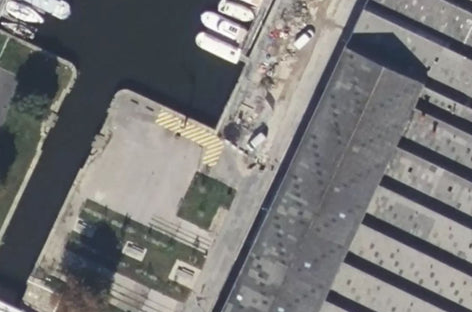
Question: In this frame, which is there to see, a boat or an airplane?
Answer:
boat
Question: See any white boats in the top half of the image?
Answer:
Yes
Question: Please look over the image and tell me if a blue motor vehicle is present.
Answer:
No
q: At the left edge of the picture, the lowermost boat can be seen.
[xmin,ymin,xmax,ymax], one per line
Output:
[1,22,37,41]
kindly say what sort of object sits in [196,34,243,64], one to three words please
boat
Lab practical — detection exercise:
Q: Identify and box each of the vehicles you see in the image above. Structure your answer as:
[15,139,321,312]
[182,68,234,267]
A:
[247,131,267,151]
[294,28,312,51]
